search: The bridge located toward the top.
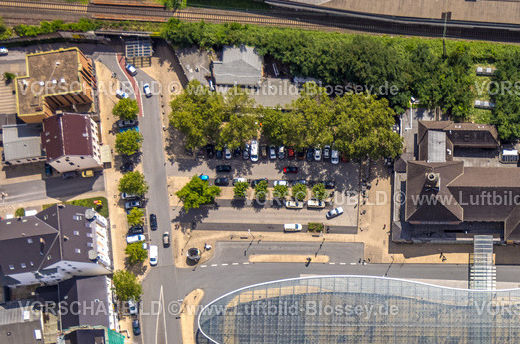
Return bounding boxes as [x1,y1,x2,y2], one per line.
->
[91,0,161,33]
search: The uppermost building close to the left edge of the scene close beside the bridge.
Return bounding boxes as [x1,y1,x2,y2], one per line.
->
[15,48,102,131]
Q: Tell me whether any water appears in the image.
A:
No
